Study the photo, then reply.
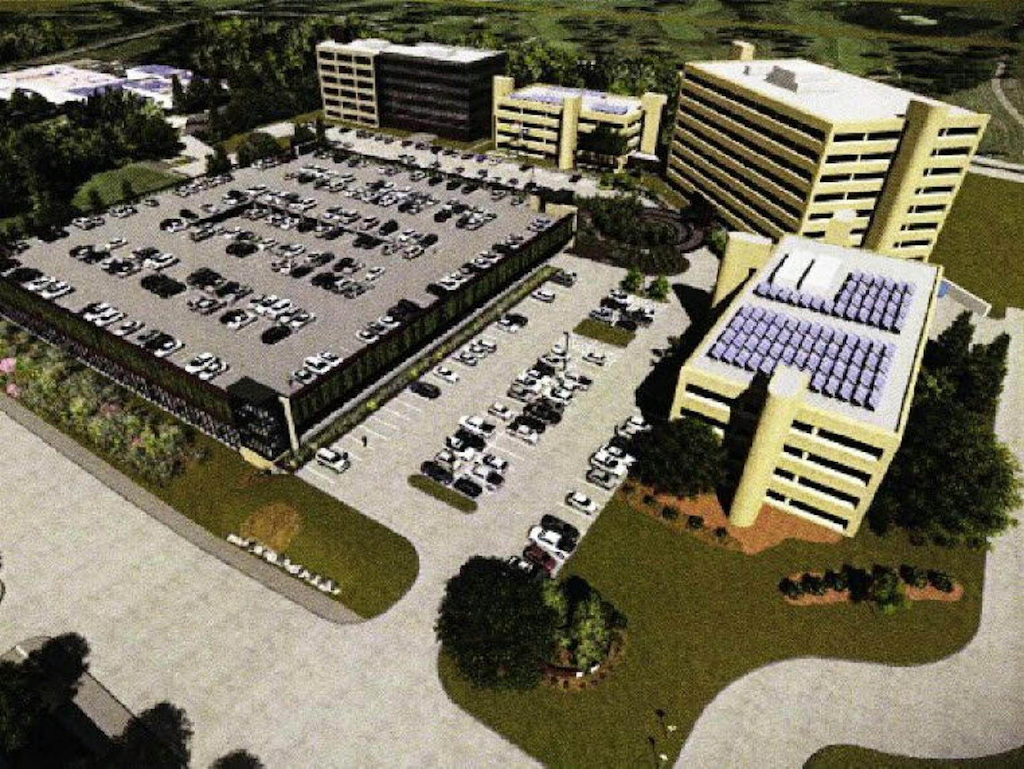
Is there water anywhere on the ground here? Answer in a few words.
No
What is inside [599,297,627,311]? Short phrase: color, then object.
black car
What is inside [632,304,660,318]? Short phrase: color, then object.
white car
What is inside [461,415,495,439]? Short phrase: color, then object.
white car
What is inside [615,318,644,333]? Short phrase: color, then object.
black car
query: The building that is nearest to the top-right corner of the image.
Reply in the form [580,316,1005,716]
[666,39,988,258]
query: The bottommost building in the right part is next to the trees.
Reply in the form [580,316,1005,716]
[665,226,943,531]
